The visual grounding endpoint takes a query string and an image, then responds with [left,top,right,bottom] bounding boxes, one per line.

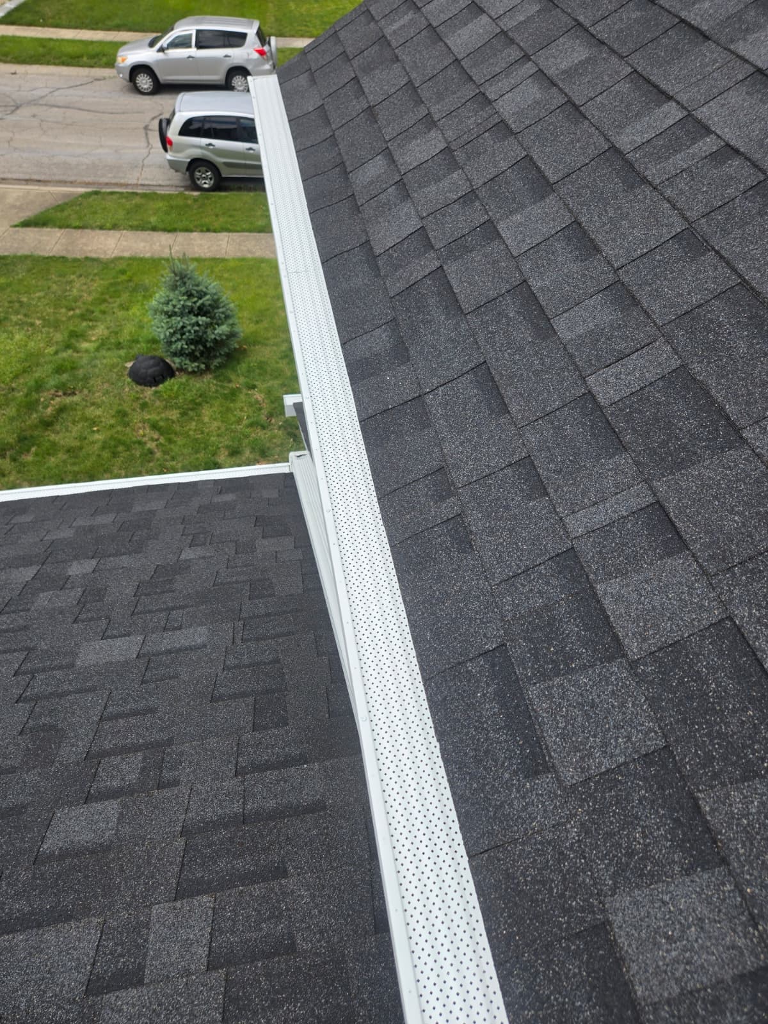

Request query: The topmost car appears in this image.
[112,14,278,98]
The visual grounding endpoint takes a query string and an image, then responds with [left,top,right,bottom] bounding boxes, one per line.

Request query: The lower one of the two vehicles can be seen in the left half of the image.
[160,93,265,193]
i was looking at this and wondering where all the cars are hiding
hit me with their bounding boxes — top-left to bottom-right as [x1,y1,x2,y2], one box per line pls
[160,93,265,193]
[112,14,278,98]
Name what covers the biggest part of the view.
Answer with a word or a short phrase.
buildings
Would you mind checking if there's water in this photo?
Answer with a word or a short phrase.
No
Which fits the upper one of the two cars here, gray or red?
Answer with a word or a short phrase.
gray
